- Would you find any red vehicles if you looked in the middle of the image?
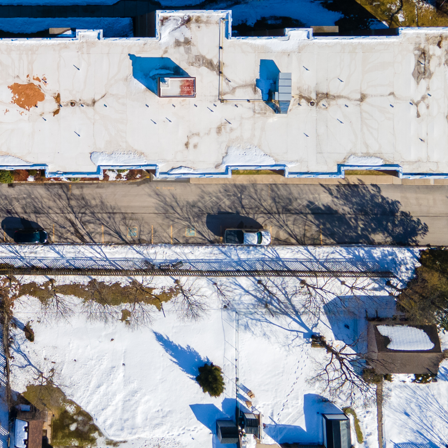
No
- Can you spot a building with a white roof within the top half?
Yes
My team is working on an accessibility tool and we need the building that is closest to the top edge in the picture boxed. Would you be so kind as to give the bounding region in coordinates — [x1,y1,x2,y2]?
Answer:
[0,10,448,184]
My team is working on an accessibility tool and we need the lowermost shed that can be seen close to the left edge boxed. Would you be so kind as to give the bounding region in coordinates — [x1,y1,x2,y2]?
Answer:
[14,413,43,448]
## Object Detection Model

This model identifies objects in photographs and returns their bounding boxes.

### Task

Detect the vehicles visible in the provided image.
[224,228,269,246]
[14,228,47,245]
